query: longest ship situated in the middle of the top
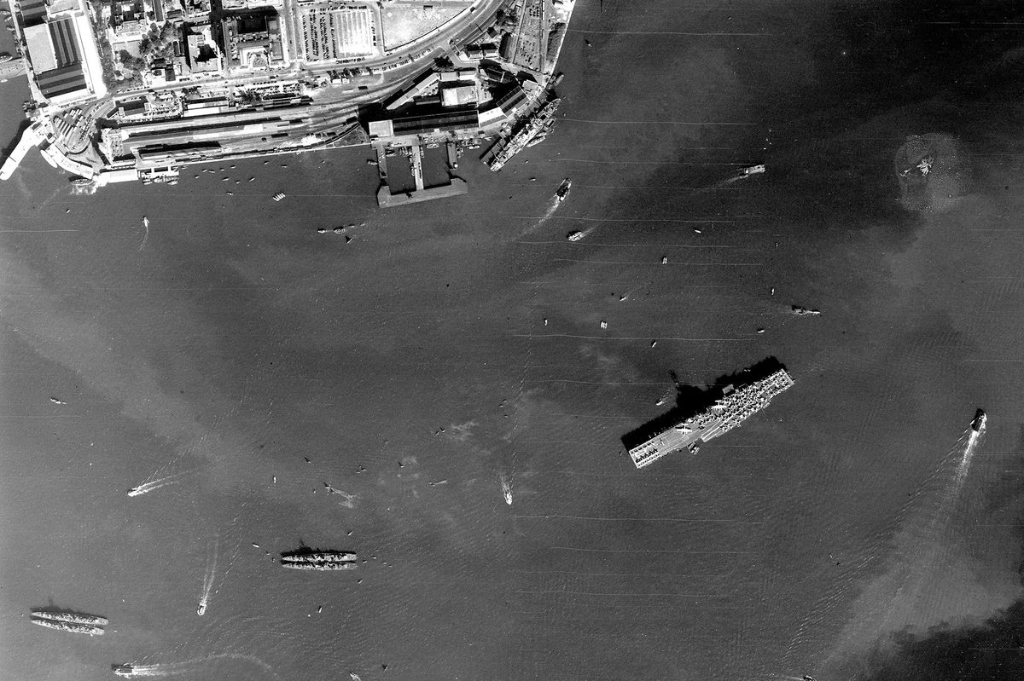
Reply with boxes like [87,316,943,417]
[491,97,561,171]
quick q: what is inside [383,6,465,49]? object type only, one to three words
sports field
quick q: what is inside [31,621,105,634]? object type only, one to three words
ship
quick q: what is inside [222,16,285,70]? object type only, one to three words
building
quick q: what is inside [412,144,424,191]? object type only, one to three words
pier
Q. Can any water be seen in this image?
Yes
